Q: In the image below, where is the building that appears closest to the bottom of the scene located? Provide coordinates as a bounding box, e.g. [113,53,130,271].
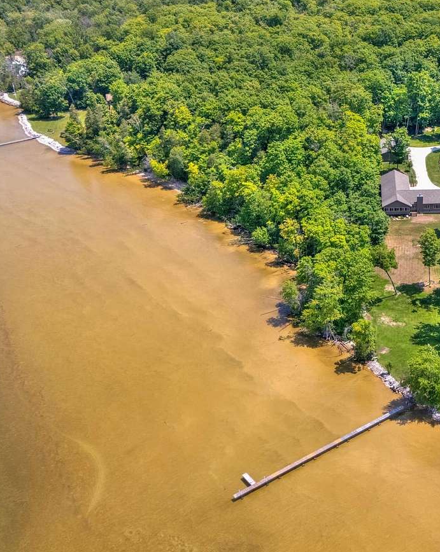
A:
[380,168,440,217]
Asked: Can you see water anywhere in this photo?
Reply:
Yes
